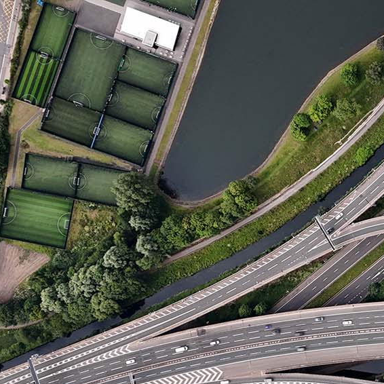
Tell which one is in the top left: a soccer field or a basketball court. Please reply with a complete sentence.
What appears in the top left is a soccer field.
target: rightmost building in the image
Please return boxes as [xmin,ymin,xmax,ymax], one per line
[121,6,182,52]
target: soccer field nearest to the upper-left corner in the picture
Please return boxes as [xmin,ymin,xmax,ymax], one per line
[28,1,75,58]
